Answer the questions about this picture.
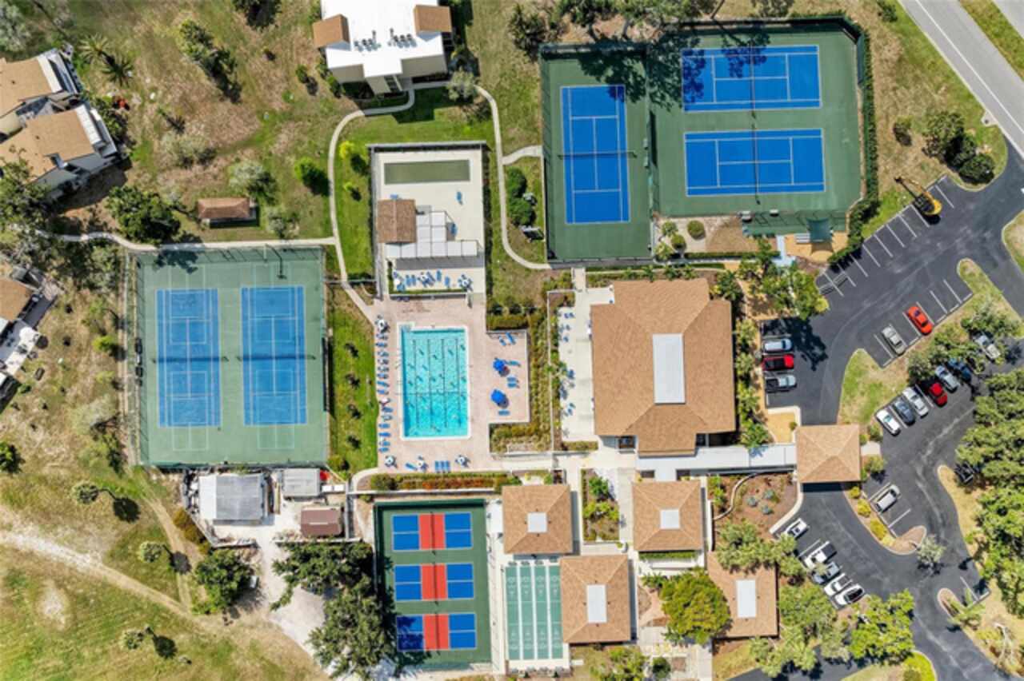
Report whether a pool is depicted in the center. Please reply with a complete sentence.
Yes, a pool appears in the center.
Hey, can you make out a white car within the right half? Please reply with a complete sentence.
Yes, a white car shows up within the right half.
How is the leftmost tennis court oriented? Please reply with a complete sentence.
In this picture, the leftmost tennis court lies up and down.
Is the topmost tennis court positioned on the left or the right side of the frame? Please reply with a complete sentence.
The topmost tennis court sits on the right side.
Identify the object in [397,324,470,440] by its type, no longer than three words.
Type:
swimming pool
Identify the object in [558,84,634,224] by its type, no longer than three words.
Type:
tennis court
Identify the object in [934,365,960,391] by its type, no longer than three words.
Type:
car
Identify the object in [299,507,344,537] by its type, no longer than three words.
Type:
shed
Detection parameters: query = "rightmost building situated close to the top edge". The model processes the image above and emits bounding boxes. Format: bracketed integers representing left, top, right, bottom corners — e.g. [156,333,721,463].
[313,0,452,92]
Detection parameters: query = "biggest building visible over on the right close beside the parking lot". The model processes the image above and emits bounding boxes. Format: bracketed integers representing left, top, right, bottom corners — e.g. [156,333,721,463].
[591,278,736,455]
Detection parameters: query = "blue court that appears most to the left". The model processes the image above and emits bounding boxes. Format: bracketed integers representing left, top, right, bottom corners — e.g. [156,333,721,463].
[150,264,224,450]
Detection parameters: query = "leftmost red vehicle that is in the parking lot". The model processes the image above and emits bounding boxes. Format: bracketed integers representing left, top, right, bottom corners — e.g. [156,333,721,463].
[761,356,794,369]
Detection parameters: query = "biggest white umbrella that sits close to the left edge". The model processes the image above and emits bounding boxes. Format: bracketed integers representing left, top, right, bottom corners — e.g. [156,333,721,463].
[11,324,35,342]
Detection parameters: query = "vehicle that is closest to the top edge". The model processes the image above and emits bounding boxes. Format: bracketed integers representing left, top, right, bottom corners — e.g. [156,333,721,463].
[897,177,941,215]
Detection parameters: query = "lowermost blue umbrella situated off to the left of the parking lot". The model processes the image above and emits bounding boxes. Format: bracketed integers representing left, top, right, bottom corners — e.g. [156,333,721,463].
[490,389,505,404]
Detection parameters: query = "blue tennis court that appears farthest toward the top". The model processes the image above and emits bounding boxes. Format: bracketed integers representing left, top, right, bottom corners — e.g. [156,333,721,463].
[681,39,821,115]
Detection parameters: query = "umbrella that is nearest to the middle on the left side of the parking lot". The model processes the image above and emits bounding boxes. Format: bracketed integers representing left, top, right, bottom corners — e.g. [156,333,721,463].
[492,359,506,372]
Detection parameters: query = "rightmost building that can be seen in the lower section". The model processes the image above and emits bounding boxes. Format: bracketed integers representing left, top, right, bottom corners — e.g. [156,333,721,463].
[791,424,861,483]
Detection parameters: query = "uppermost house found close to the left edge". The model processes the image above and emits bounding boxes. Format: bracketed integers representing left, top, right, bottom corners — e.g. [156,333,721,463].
[0,46,85,141]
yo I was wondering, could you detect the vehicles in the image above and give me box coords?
[923,379,949,407]
[902,388,927,416]
[871,487,899,513]
[880,326,906,354]
[802,538,835,568]
[907,306,933,334]
[761,356,794,369]
[949,353,974,380]
[763,376,796,389]
[890,397,915,425]
[934,365,960,391]
[836,582,864,605]
[784,517,807,537]
[761,338,791,352]
[897,177,941,215]
[811,556,840,584]
[823,572,853,600]
[874,407,900,435]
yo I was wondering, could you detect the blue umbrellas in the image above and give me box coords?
[490,389,505,404]
[492,359,506,372]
